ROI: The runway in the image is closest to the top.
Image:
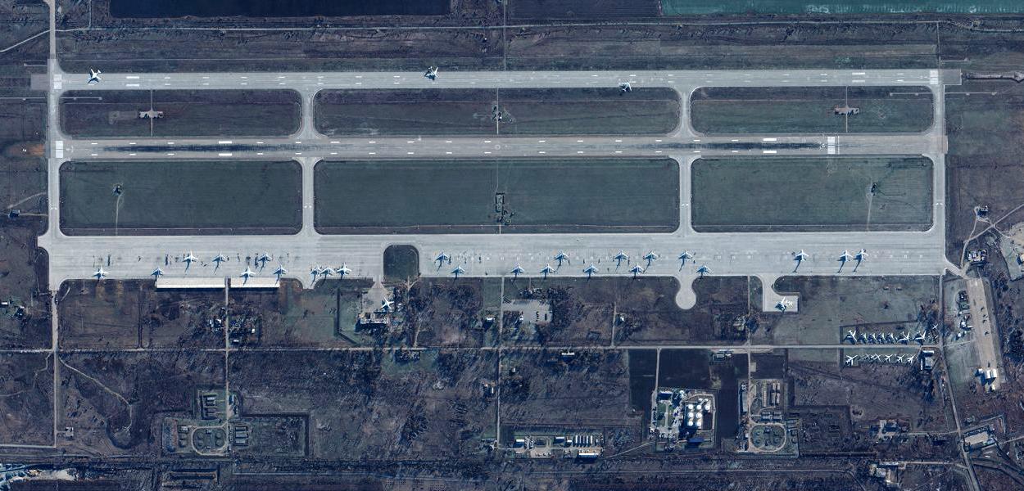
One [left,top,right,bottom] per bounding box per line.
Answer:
[54,69,940,90]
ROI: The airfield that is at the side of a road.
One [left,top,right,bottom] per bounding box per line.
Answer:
[31,59,999,392]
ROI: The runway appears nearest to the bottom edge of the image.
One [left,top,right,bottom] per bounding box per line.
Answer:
[48,136,931,158]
